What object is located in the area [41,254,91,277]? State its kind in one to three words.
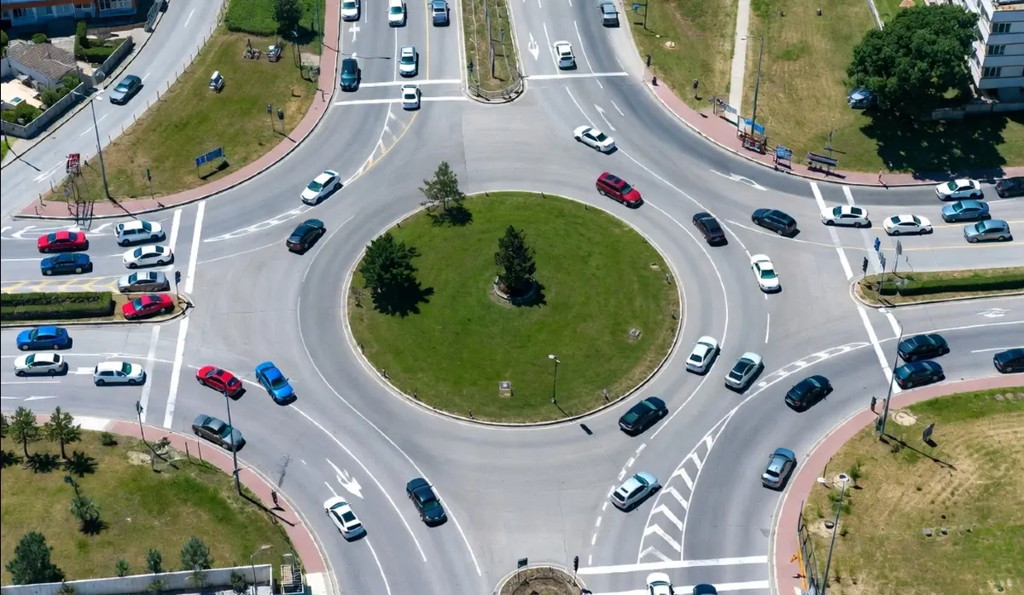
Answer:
car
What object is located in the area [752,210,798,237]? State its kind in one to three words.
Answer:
car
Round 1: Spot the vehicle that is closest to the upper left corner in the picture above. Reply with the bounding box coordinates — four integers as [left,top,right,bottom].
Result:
[109,74,144,104]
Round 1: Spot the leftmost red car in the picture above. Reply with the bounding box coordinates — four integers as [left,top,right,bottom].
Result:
[39,232,88,255]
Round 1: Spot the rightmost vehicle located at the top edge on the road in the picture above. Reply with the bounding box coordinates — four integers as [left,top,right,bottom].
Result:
[598,0,618,25]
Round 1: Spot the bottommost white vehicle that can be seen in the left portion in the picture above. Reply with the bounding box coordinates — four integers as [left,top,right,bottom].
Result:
[323,499,367,540]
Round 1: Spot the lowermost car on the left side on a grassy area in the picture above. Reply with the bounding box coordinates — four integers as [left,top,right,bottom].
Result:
[123,296,174,321]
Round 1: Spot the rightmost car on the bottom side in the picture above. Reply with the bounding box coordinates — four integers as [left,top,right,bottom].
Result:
[994,349,1024,373]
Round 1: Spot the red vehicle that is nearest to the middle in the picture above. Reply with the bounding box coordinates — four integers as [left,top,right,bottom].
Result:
[595,173,644,206]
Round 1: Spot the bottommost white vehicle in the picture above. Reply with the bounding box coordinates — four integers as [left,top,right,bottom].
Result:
[648,573,672,595]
